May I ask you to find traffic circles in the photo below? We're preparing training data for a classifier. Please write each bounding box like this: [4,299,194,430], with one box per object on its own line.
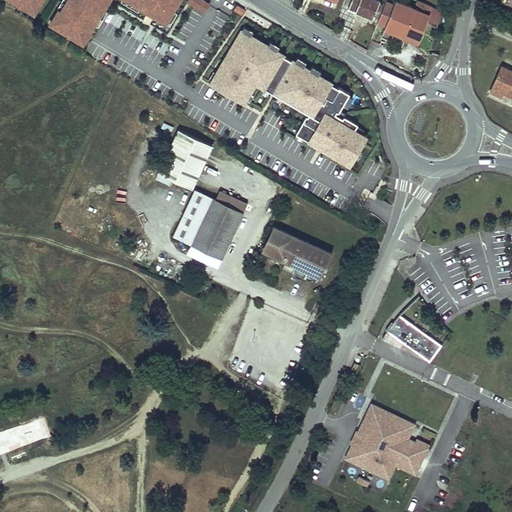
[387,81,484,178]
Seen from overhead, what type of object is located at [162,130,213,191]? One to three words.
shed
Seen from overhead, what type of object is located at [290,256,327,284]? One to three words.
solar panel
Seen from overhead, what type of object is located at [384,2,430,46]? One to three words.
house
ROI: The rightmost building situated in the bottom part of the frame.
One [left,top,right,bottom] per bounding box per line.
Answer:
[387,316,442,363]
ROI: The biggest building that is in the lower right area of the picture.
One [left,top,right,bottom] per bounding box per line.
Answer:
[344,400,430,484]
